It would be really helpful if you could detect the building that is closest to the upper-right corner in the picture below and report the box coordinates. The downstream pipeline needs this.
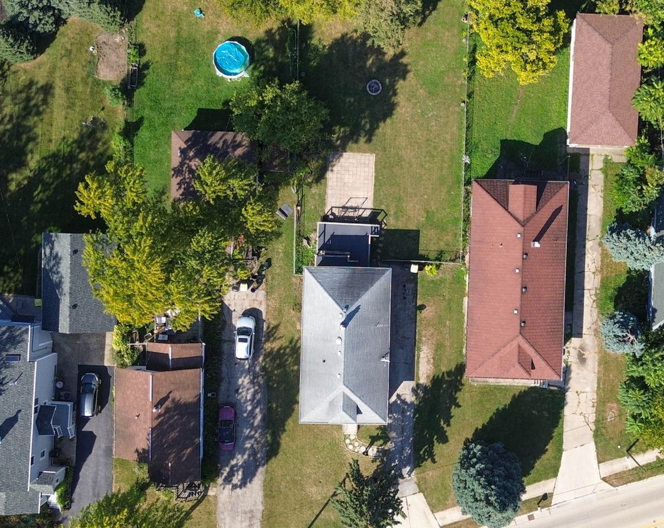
[566,12,645,148]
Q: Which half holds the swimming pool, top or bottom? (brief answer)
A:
top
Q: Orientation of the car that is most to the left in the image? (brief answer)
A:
vertically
